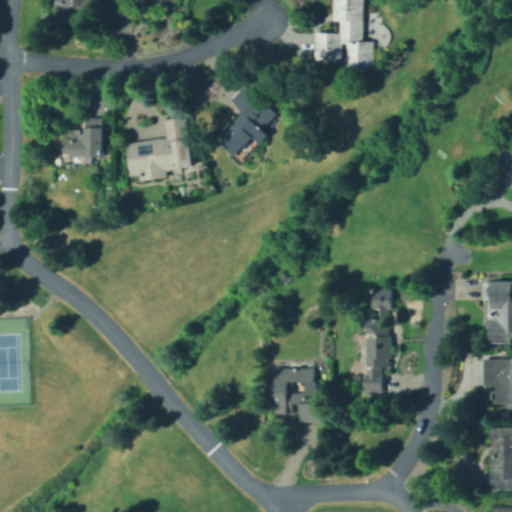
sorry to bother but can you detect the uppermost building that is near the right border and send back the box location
[484,281,512,346]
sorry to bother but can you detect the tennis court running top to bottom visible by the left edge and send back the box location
[0,318,31,407]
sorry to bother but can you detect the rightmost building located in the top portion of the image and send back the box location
[315,0,375,65]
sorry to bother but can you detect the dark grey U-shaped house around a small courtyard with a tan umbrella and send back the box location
[273,368,316,415]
